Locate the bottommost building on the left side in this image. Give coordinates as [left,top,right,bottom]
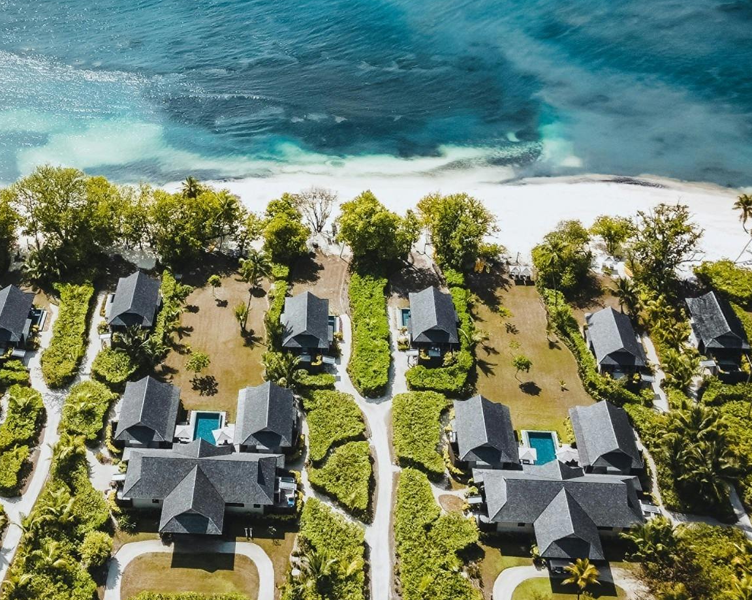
[109,436,297,552]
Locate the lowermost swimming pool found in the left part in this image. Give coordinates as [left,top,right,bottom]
[174,410,236,454]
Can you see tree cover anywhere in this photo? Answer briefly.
Yes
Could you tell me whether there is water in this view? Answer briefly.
Yes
